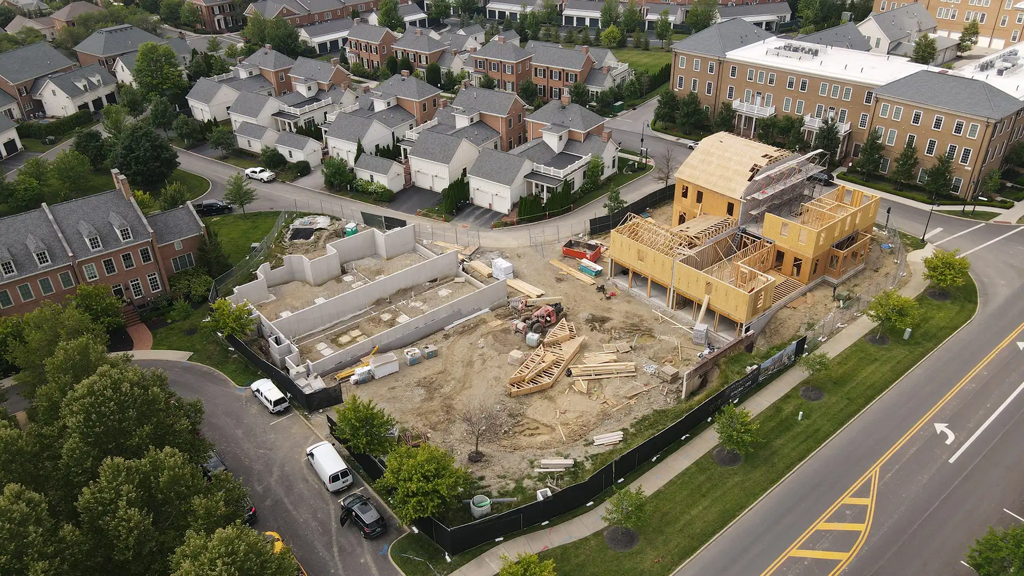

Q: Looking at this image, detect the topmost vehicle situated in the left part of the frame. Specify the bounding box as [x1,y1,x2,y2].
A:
[245,163,280,182]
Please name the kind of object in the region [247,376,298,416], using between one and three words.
truck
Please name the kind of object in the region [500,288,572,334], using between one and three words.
work vehicle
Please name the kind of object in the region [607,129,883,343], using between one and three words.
house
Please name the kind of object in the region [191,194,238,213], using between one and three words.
vehicle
